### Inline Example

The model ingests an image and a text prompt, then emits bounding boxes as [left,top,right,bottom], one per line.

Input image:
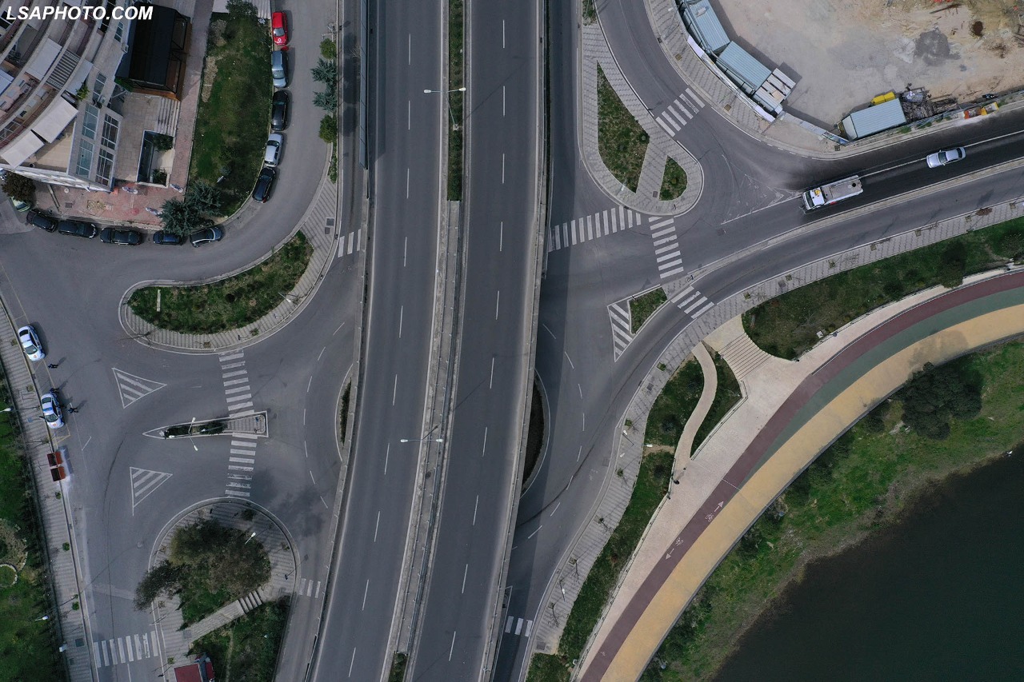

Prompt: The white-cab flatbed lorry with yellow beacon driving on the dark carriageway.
[797,174,867,212]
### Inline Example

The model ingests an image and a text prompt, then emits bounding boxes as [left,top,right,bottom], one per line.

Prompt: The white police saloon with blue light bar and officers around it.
[40,389,67,429]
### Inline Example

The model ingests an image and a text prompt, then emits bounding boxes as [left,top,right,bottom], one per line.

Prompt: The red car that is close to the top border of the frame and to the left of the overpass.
[270,11,289,47]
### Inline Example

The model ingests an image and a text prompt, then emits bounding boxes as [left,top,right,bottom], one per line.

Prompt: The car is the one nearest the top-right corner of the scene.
[924,144,967,171]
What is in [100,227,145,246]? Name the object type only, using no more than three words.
car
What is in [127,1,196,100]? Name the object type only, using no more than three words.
building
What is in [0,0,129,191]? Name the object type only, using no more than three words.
building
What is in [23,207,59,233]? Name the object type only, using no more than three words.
car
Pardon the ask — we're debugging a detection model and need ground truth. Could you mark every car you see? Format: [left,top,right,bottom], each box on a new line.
[5,194,35,217]
[20,324,46,363]
[100,227,145,246]
[40,389,67,429]
[270,50,290,89]
[253,166,278,204]
[270,11,289,47]
[264,133,284,168]
[57,219,100,239]
[23,207,59,233]
[924,144,967,171]
[270,91,290,132]
[153,229,186,246]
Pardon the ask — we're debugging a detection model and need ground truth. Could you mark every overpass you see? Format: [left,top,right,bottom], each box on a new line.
[305,0,547,682]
